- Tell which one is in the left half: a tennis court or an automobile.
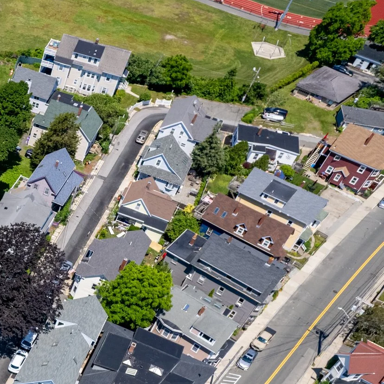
automobile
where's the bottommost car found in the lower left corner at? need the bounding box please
[8,349,29,375]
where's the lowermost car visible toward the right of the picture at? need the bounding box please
[236,348,258,372]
